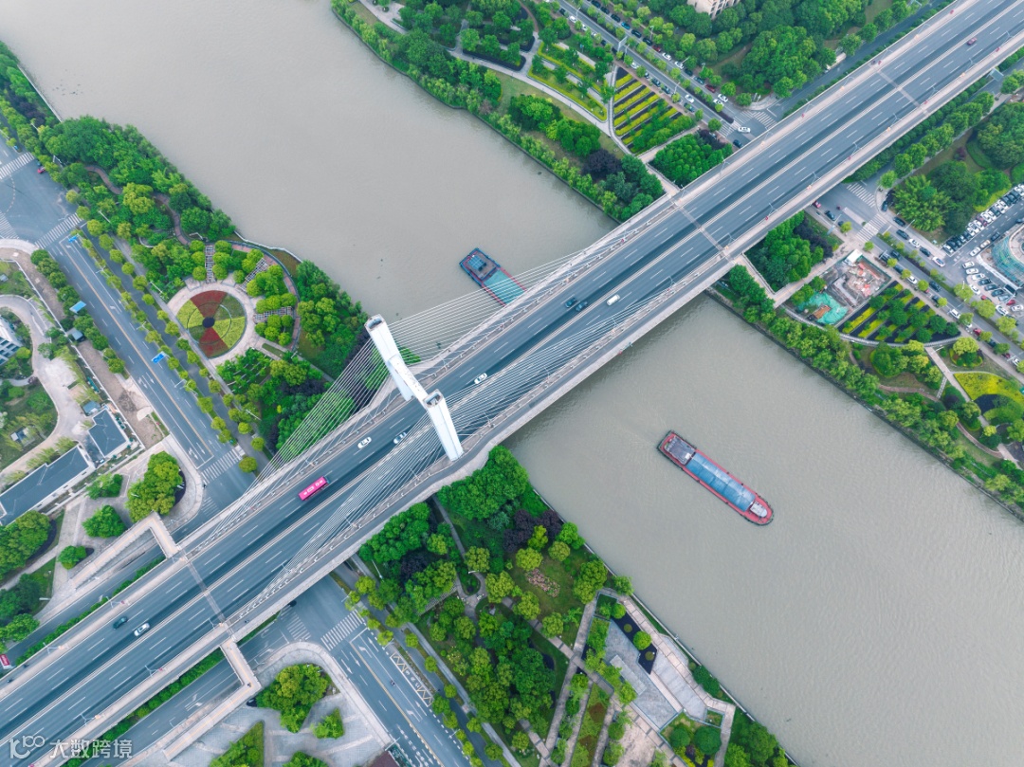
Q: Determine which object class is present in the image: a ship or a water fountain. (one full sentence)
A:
This aerial view contains a ship.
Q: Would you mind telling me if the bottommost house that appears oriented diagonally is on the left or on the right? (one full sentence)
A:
The bottommost house that appears oriented diagonally sits on the left side.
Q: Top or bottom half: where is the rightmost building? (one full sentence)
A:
Seen from above, the rightmost building lies in the top half of the view.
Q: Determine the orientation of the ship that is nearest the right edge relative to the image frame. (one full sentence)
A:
What the image shows is the ship that is nearest the right edge lying on a diagonal.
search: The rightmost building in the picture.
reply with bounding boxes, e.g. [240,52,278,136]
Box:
[985,219,1024,283]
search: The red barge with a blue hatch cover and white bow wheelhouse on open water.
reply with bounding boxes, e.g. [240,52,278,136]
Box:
[657,429,775,525]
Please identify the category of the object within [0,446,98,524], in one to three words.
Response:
house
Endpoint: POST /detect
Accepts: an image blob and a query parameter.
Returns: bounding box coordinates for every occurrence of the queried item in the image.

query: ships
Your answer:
[460,247,528,304]
[657,429,775,525]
